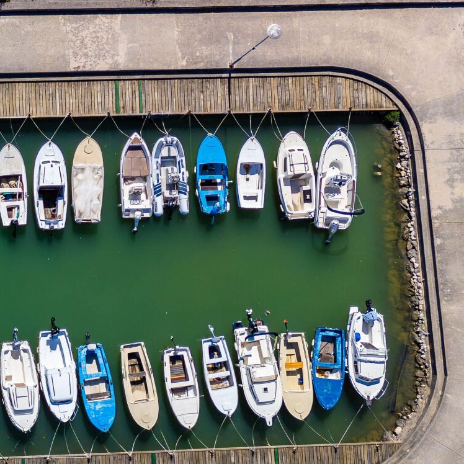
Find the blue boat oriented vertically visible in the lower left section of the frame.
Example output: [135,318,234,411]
[78,333,115,431]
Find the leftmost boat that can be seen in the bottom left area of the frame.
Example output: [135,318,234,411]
[0,327,40,431]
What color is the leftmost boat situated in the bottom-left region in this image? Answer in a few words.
white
